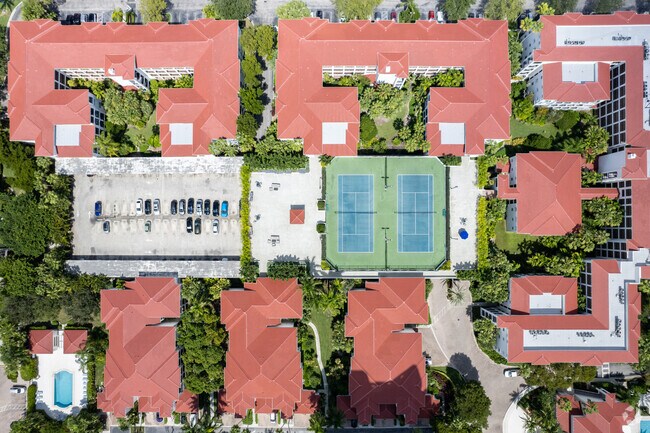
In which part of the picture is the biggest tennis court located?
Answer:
center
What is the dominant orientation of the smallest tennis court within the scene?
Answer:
up and down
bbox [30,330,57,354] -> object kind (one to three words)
building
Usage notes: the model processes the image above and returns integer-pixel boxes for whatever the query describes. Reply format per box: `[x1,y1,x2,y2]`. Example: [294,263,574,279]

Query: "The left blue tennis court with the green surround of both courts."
[326,158,446,270]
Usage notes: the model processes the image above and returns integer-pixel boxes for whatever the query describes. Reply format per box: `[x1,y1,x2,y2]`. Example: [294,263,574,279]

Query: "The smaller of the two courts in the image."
[397,174,434,253]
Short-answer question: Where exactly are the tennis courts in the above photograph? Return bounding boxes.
[326,158,446,270]
[397,174,434,253]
